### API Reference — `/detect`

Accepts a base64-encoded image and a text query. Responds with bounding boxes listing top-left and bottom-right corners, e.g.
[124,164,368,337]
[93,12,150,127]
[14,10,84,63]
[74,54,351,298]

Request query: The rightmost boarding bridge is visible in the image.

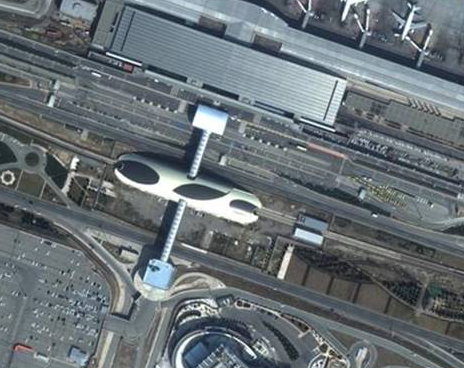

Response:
[405,29,434,67]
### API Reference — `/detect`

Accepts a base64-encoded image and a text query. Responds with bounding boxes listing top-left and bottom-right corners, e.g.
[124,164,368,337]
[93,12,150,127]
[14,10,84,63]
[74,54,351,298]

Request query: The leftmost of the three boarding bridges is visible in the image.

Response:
[297,0,314,29]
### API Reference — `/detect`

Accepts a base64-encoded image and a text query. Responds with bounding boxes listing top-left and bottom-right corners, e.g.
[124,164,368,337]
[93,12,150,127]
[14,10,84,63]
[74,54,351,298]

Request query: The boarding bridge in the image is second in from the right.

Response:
[354,9,372,49]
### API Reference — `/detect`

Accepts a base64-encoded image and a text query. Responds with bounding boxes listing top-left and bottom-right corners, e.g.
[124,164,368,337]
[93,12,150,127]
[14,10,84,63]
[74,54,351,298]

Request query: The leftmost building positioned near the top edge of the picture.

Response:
[59,0,99,23]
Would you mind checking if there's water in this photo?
No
